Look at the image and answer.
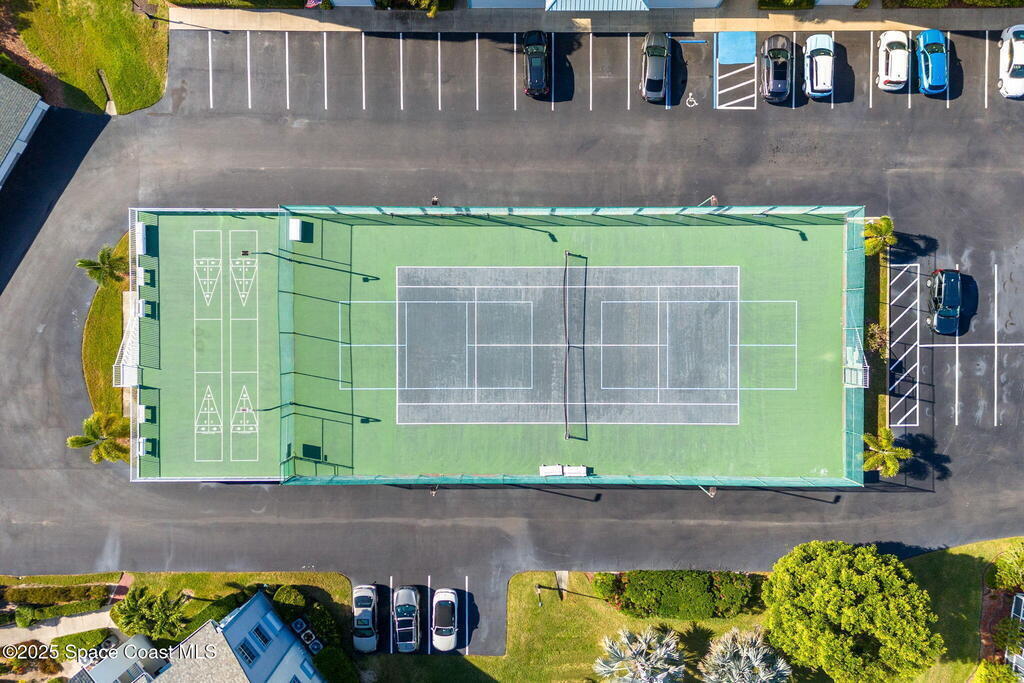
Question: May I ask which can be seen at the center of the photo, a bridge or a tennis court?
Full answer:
Looking at the center of the photo, you will find a tennis court.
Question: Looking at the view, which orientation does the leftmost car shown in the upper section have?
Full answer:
The leftmost car shown in the upper section runs up and down in the image.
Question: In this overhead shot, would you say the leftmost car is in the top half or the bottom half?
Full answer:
The leftmost car sits in the bottom half of the picture.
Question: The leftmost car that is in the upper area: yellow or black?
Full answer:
In this view, the leftmost car that is in the upper area is black.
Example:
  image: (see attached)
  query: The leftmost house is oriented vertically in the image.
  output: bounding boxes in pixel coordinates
[0,73,48,186]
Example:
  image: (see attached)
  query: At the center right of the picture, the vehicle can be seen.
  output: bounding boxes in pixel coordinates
[926,270,963,335]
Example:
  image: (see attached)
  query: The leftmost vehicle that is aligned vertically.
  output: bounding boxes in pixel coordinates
[350,584,379,651]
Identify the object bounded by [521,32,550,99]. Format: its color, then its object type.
black car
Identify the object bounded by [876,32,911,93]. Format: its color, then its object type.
white car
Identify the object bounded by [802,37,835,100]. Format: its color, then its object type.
white car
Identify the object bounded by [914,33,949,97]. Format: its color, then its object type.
blue car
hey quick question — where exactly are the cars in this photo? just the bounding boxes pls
[926,270,963,335]
[760,37,793,104]
[641,34,671,104]
[350,584,379,651]
[998,28,1024,98]
[521,32,550,99]
[876,32,911,93]
[914,33,949,97]
[391,585,421,654]
[431,587,459,651]
[802,37,835,100]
